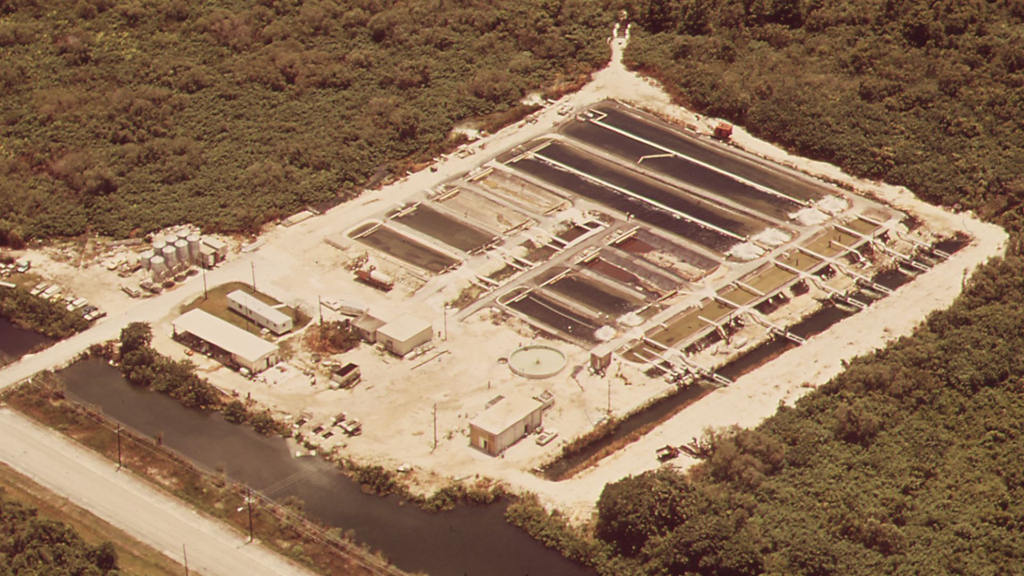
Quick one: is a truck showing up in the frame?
Yes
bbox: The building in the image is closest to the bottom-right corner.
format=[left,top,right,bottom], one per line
[590,345,612,371]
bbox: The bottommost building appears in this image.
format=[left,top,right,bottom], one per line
[465,392,543,460]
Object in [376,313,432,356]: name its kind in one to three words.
building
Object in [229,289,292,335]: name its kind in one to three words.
house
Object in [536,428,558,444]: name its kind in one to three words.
vehicle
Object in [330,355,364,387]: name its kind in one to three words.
truck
